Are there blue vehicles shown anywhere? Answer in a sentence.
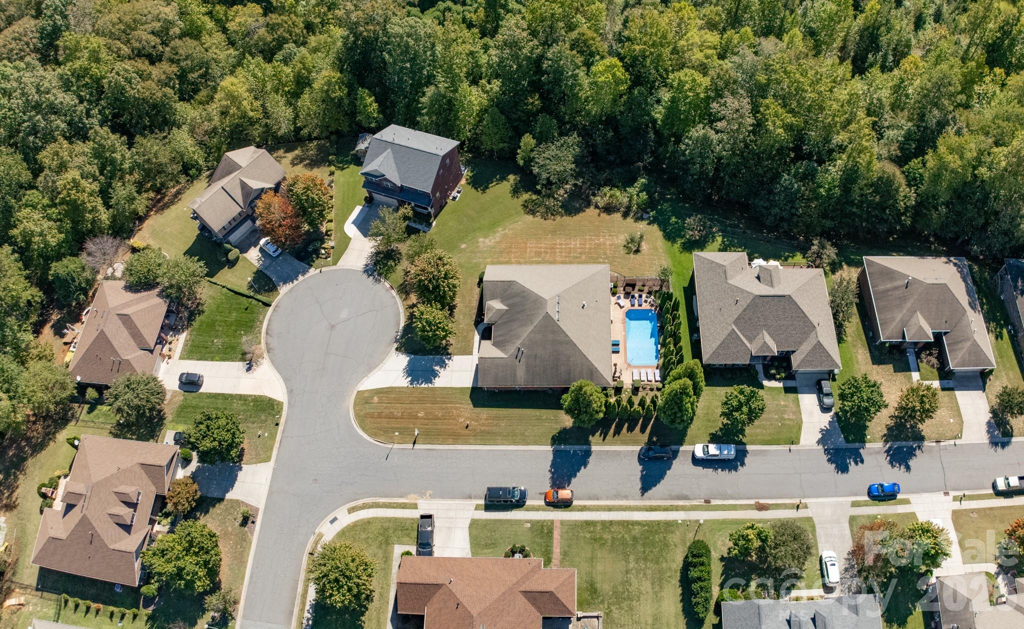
Yes, a blue vehicle appears in the view.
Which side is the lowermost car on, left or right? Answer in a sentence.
You can find the lowermost car on the right side of the picture.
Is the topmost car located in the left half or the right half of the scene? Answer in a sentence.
The topmost car is on the left side of the image.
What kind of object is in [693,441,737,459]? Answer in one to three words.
vehicle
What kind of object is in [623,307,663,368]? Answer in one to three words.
swimming pool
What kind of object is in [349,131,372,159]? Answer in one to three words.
gazebo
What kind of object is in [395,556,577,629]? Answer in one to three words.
house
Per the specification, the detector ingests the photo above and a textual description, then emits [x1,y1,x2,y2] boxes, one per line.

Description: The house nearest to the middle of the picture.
[477,264,613,391]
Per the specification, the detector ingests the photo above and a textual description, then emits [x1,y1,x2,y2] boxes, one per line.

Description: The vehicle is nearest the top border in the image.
[258,237,283,258]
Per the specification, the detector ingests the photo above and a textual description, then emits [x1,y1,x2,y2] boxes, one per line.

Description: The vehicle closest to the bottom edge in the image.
[820,550,841,586]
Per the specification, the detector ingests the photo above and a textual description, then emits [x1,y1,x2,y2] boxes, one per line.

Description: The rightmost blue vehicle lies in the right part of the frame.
[866,480,902,497]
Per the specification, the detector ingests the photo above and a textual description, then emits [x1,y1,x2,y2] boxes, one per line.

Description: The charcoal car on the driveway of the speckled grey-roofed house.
[816,379,835,408]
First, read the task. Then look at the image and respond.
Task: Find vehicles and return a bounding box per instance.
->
[258,237,283,258]
[175,370,207,387]
[485,484,527,502]
[544,486,574,504]
[866,480,902,497]
[693,441,737,459]
[169,429,192,445]
[820,550,841,586]
[639,443,672,460]
[415,513,434,557]
[992,473,1024,491]
[816,379,835,408]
